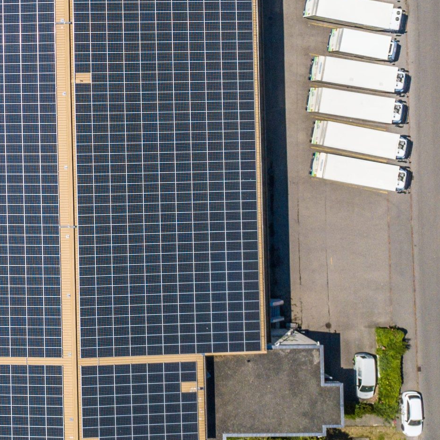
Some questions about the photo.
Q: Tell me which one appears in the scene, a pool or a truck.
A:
truck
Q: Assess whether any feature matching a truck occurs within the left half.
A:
No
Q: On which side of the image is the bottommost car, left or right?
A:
right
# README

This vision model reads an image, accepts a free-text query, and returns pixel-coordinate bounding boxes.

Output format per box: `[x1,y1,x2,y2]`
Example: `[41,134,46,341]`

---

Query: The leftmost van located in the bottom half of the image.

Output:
[350,351,378,395]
